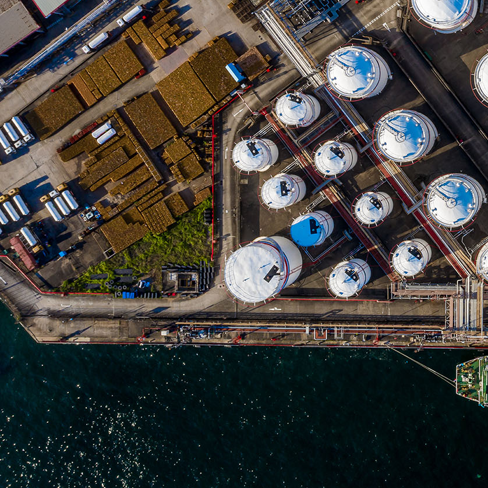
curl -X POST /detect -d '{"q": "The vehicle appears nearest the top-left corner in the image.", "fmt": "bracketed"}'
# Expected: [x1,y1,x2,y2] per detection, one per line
[81,31,114,55]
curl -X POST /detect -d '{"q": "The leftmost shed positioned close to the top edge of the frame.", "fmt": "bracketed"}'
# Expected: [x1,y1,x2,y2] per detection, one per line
[0,0,53,66]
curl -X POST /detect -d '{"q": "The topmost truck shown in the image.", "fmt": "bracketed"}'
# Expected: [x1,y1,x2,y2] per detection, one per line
[115,3,147,27]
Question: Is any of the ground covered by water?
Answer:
Yes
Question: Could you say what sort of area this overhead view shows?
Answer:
industrial area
